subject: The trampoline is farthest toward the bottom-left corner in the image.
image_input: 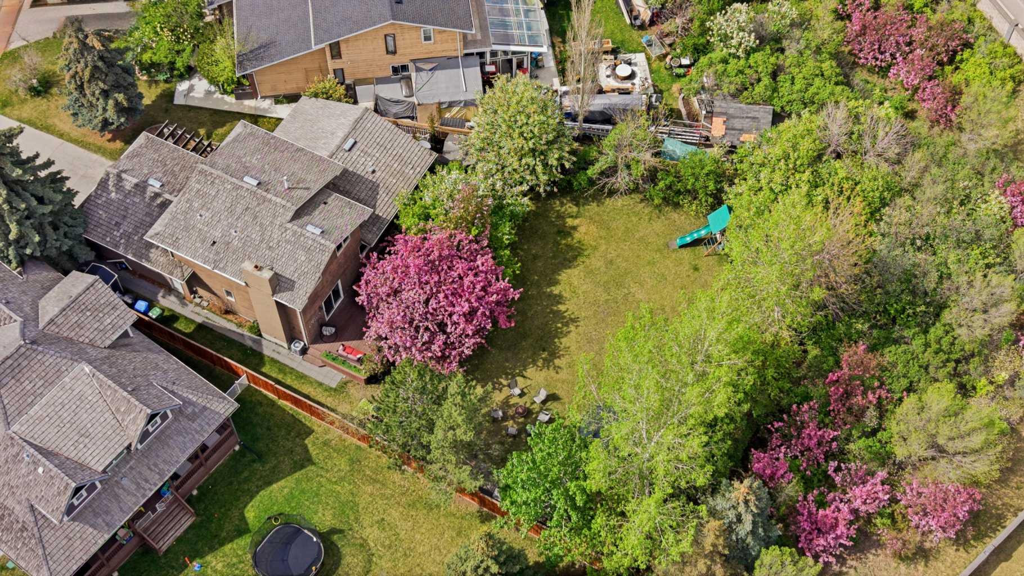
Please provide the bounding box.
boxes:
[243,509,327,576]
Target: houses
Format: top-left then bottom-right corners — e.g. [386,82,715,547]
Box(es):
[69,96,439,347]
[232,0,547,101]
[0,230,245,576]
